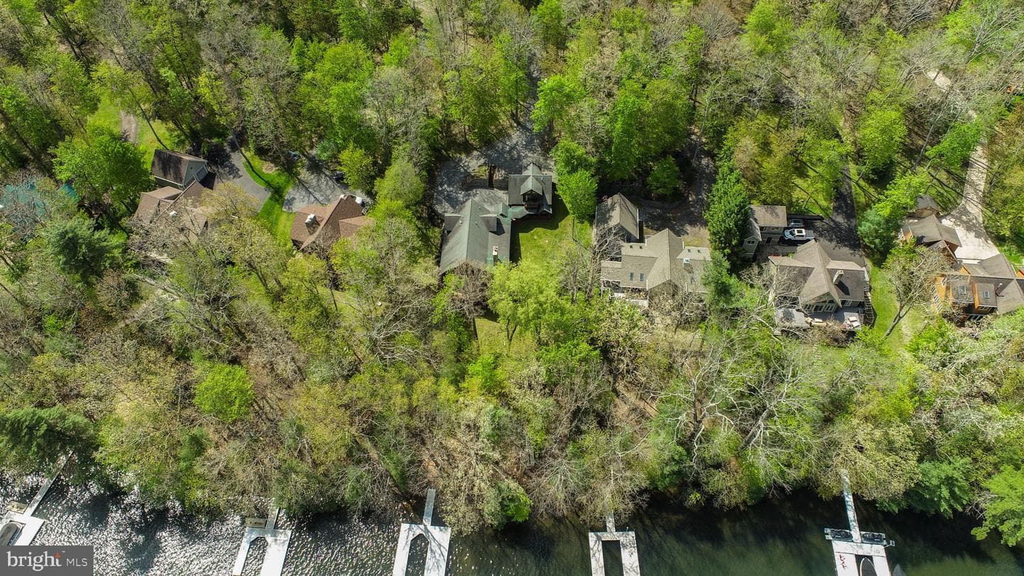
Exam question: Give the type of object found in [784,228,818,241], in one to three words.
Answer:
vehicle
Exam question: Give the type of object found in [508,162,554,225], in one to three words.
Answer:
building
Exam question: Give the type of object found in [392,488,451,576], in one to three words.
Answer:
pier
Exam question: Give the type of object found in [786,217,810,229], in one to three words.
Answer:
vehicle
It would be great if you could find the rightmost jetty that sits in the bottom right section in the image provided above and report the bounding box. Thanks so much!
[831,482,891,576]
